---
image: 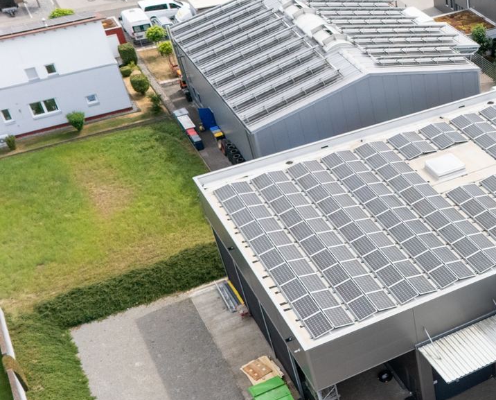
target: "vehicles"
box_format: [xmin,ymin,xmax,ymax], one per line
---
[139,0,186,21]
[175,3,201,23]
[0,0,29,17]
[167,56,190,94]
[119,8,148,43]
[154,17,177,36]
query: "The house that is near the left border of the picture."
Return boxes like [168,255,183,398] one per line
[0,5,131,138]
